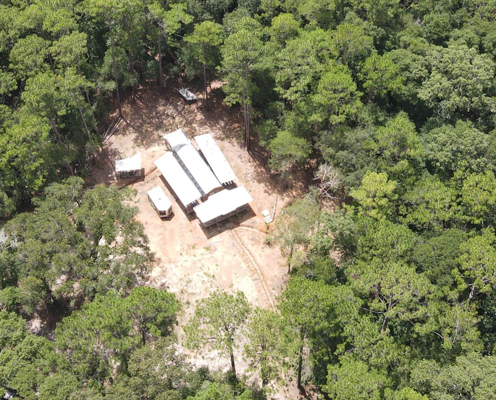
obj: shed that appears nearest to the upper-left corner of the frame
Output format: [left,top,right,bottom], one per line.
[116,151,142,179]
